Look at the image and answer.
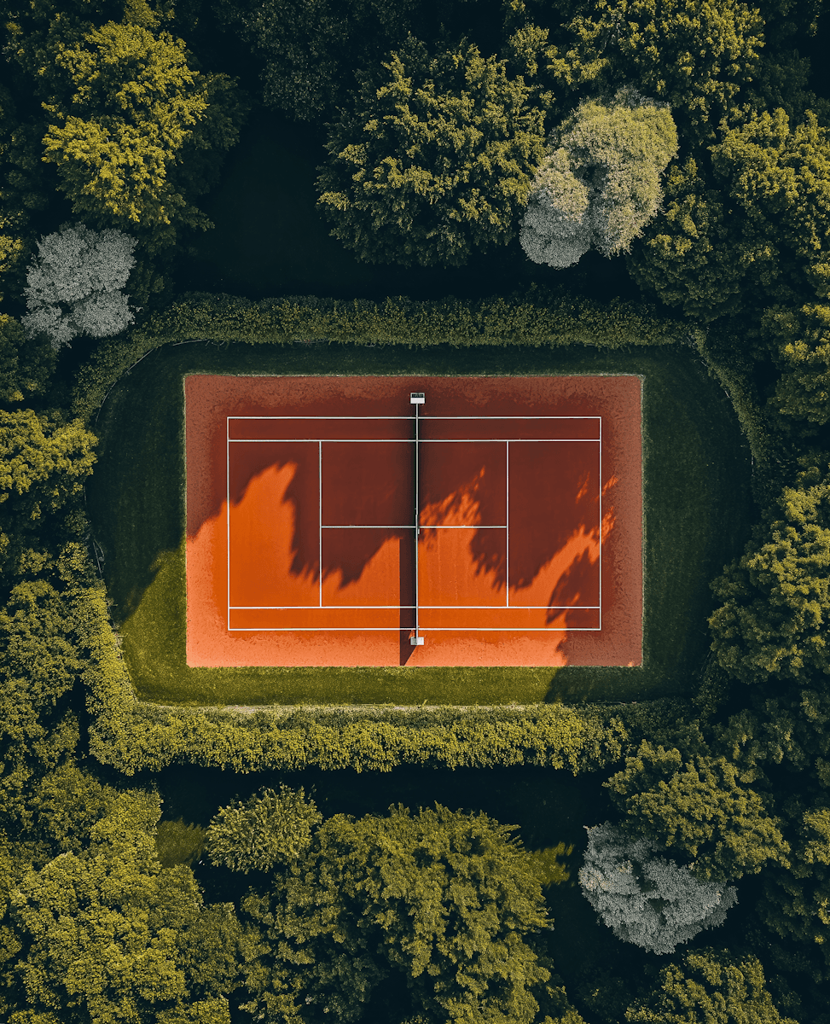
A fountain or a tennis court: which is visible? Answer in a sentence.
I can see a tennis court in this picture.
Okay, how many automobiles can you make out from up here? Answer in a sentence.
Not a single automobile can be seen.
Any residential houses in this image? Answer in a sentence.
No, the scene contains no residential house.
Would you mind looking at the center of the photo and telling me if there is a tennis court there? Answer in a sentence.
Yes, a tennis court appears at the center of the photo.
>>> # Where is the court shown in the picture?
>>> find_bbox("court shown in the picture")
[185,374,643,667]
